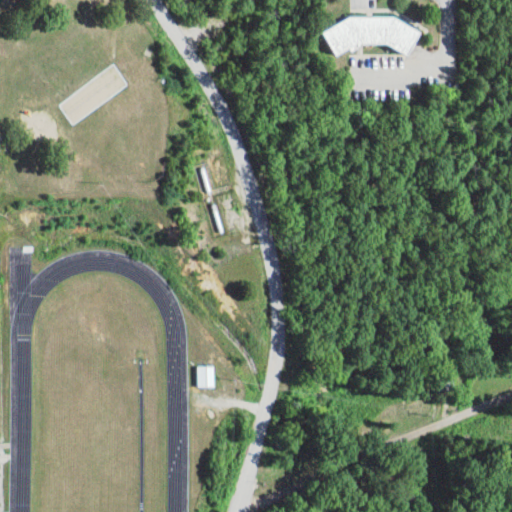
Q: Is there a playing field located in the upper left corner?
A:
Yes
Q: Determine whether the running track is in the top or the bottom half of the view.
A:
bottom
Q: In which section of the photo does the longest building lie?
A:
top right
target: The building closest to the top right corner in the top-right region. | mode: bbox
[322,15,423,58]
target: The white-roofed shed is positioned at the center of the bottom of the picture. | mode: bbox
[194,366,214,389]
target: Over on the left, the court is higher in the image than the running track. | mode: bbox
[60,64,127,126]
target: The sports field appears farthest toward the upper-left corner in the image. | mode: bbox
[0,24,167,194]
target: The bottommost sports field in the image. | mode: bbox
[32,272,168,512]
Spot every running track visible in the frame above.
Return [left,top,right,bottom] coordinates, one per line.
[10,248,189,512]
